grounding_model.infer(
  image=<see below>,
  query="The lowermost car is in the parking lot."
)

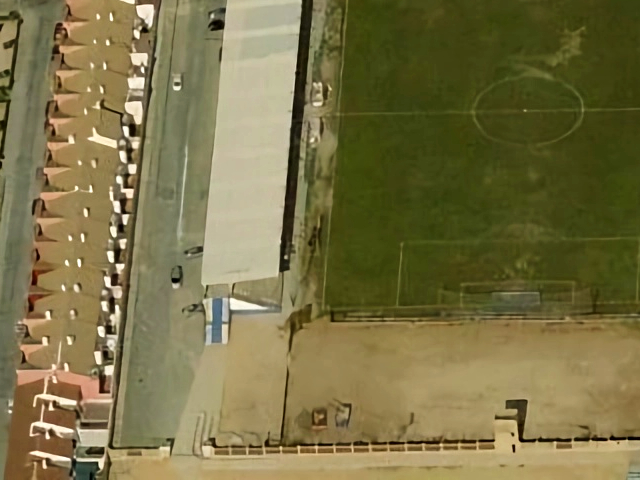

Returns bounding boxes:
[181,302,206,315]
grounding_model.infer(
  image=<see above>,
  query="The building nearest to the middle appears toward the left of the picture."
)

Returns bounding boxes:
[206,296,229,345]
